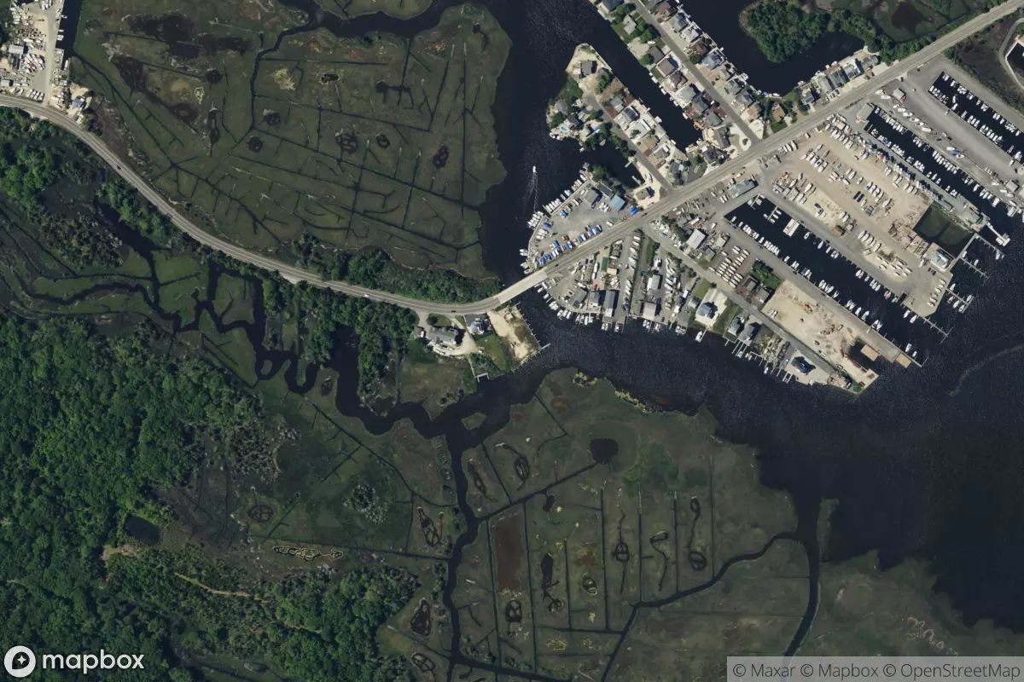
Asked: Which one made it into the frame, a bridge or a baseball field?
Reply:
bridge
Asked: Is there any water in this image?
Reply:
Yes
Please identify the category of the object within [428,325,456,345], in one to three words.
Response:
house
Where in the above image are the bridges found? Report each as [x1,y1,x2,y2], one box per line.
[495,265,551,304]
